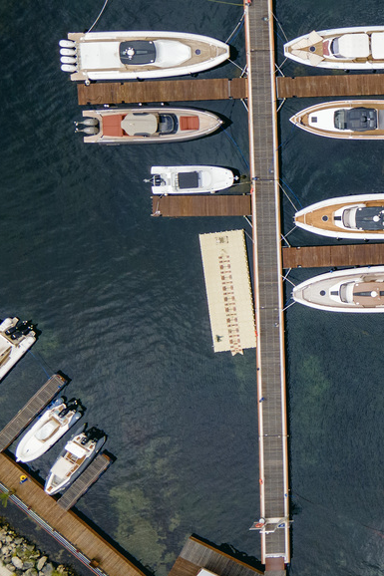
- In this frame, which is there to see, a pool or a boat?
boat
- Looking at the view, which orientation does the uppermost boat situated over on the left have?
from side to side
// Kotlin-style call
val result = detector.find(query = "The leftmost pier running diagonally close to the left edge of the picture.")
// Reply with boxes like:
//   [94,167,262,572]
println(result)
[0,374,70,450]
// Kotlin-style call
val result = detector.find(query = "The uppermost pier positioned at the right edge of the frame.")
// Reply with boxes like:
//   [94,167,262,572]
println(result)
[277,74,384,98]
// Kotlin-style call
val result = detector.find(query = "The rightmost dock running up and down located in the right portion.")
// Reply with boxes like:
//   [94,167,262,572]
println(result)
[244,0,292,571]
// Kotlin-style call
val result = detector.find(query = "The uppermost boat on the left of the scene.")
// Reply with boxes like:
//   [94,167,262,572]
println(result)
[60,32,232,81]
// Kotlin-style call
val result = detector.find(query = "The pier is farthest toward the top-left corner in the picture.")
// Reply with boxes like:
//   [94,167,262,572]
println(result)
[77,78,247,105]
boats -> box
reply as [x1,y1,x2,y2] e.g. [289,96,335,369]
[0,317,37,386]
[283,27,384,70]
[294,193,384,240]
[16,401,82,464]
[288,100,384,139]
[75,107,224,143]
[292,264,384,312]
[60,32,232,81]
[44,426,105,495]
[145,166,240,194]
